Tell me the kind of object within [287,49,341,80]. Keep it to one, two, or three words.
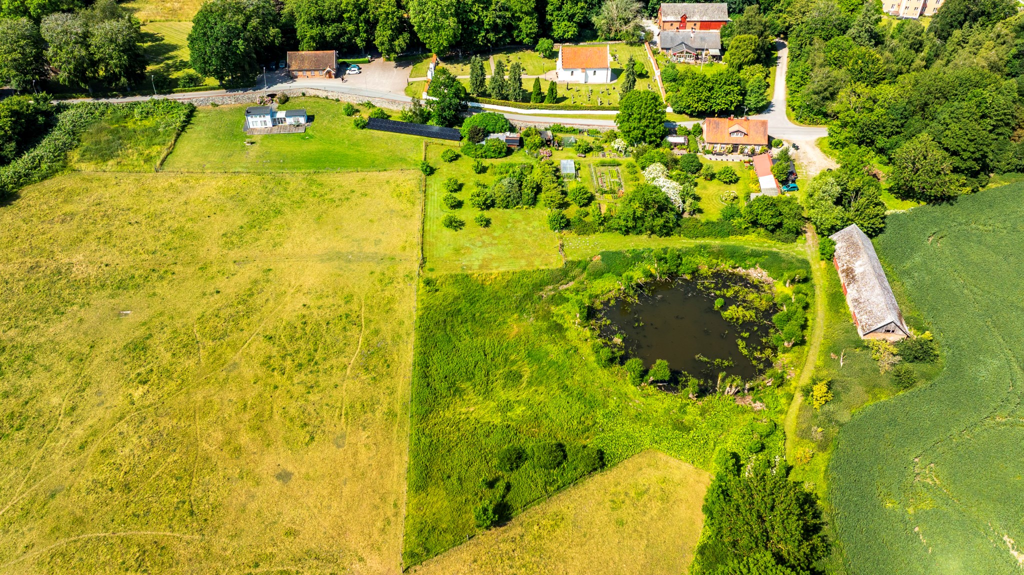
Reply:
building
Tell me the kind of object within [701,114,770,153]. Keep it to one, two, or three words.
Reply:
house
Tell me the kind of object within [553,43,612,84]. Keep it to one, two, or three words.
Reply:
building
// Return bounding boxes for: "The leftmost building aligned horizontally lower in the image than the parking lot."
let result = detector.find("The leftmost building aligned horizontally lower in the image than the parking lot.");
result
[245,104,307,127]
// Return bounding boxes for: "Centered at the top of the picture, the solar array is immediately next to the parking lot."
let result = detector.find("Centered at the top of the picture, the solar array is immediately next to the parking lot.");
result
[365,115,464,142]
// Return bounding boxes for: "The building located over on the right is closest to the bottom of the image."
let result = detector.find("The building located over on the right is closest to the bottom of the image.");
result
[829,222,911,342]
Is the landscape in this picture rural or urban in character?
rural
